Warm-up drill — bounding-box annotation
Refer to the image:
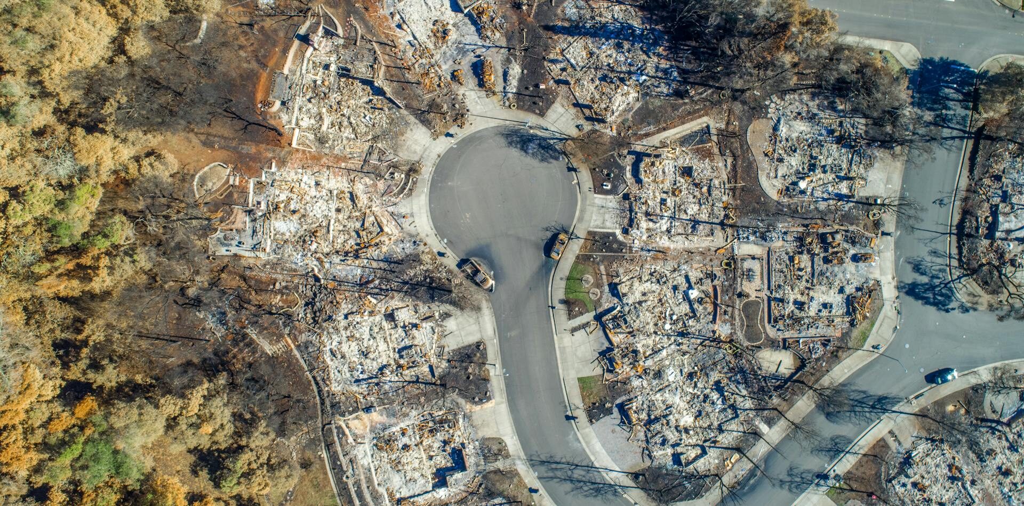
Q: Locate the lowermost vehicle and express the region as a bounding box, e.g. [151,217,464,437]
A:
[933,368,963,386]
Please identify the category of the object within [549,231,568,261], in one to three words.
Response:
car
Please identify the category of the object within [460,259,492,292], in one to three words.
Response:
truck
